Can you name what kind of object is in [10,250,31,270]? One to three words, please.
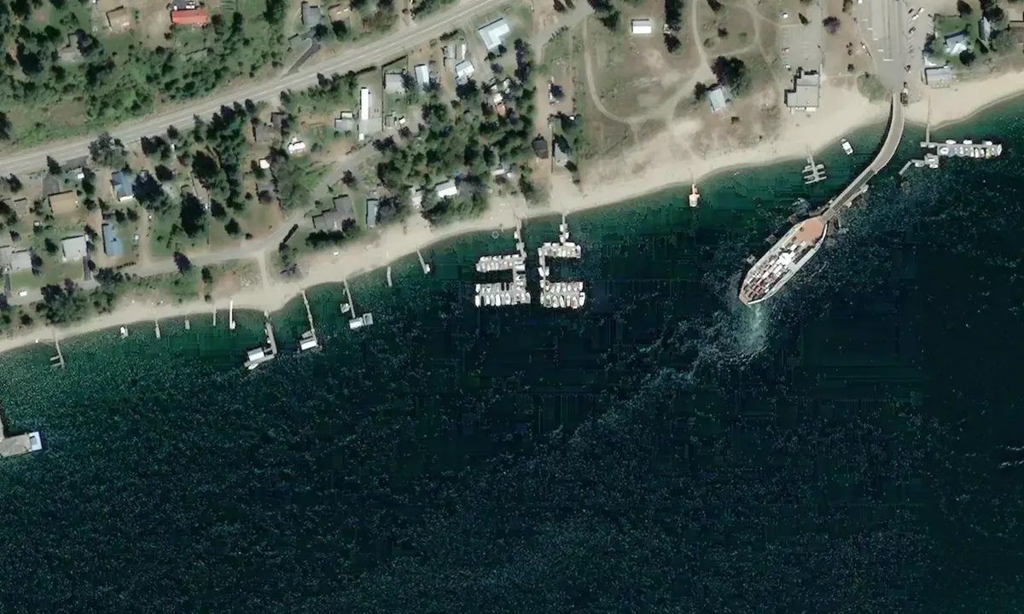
house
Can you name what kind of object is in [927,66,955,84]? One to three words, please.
building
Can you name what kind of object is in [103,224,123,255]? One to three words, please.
house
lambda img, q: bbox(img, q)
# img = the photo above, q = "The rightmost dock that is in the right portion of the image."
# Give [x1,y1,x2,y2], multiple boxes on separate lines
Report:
[920,100,1001,156]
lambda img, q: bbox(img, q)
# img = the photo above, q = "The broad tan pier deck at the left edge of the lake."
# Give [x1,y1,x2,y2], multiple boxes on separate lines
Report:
[0,417,31,457]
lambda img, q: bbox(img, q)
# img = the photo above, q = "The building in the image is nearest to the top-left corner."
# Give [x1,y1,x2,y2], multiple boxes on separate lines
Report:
[59,39,83,61]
